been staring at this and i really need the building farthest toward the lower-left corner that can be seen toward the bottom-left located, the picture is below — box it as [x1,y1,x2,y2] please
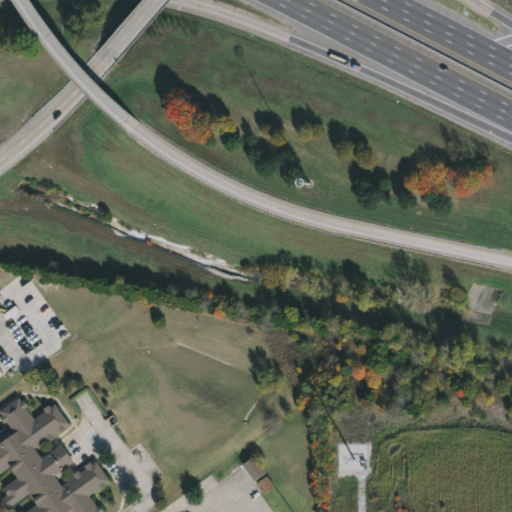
[0,393,112,512]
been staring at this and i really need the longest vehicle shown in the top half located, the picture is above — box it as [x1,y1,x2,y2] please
[328,52,362,70]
